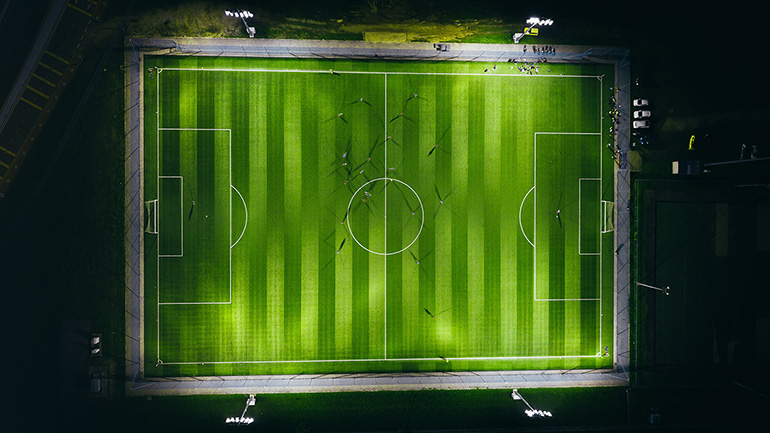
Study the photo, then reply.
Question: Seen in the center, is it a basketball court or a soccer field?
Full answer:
There is a soccer field in the center.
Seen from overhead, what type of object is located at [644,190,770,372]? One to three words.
sports field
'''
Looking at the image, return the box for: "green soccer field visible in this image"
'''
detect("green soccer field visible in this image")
[144,55,614,377]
